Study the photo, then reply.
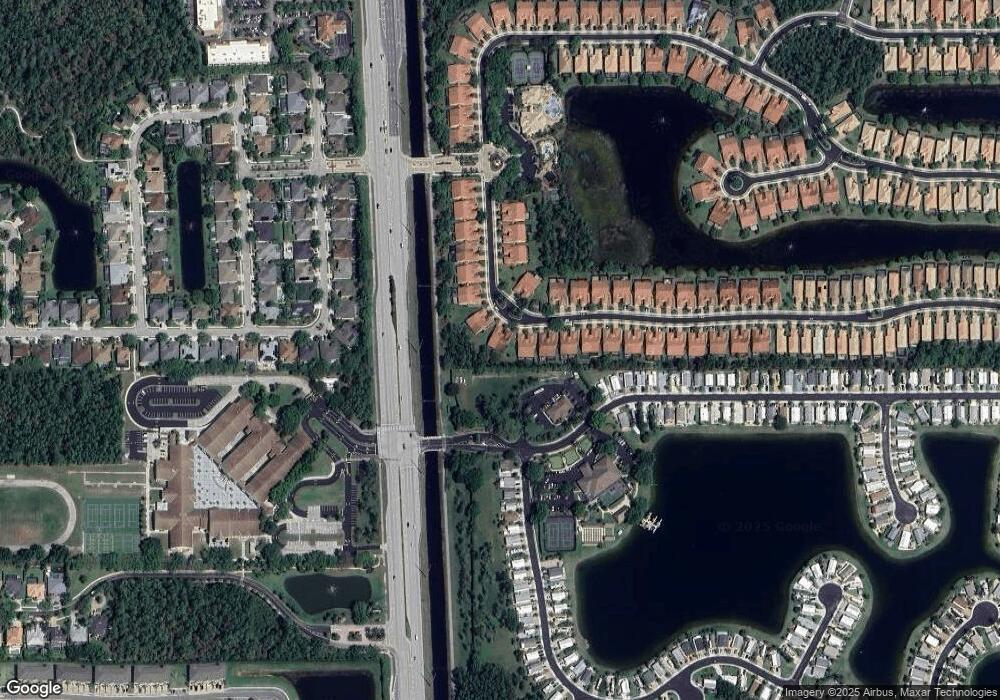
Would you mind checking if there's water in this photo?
Yes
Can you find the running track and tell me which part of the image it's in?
bottom left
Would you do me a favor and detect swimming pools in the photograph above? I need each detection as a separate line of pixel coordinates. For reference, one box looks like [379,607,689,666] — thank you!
[544,144,553,160]
[544,94,562,117]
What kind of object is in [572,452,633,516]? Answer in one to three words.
building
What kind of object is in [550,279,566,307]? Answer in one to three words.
house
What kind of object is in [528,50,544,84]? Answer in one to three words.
tennis court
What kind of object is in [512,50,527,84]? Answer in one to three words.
tennis court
